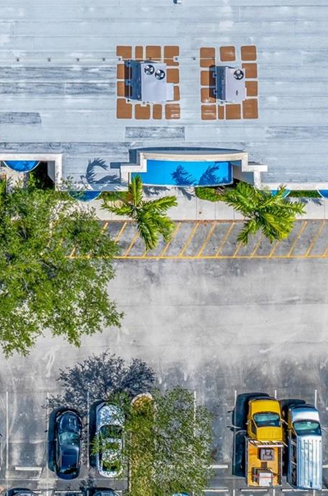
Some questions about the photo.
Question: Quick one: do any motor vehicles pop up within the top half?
No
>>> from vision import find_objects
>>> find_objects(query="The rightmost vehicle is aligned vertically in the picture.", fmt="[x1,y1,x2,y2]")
[283,403,325,494]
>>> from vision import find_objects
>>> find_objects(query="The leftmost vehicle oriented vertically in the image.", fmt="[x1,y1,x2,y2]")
[48,408,82,480]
